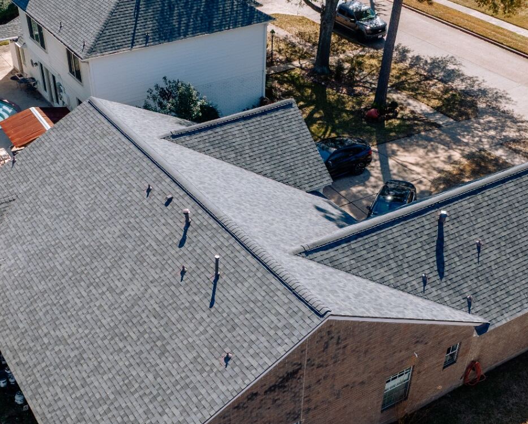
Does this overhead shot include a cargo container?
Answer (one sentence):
No, this view has no cargo container in it.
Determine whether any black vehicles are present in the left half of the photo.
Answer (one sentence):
No, no black vehicle can be made out in the left half of the photo.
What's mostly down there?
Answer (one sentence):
For the most part, this view shows buildings.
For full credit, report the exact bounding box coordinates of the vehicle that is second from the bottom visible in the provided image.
[314,136,377,184]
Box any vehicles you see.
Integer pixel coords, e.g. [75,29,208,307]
[349,174,417,226]
[335,0,384,41]
[314,136,377,184]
